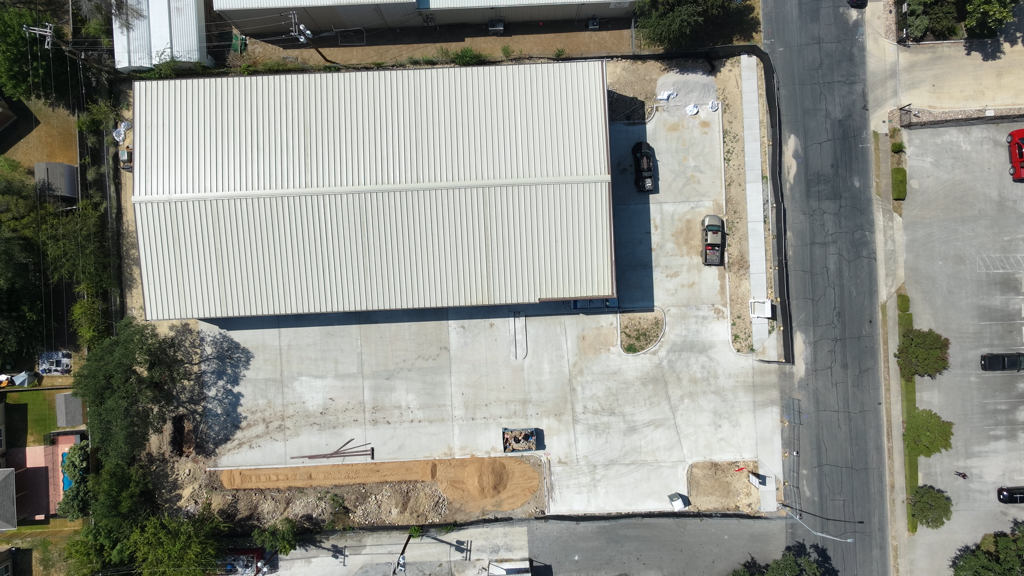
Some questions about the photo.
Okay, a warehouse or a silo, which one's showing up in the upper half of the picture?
warehouse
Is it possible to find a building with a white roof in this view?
Yes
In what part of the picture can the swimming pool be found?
bottom left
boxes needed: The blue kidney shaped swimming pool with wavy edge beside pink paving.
[61,452,81,493]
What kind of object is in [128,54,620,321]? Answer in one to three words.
warehouse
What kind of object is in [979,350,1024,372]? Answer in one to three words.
truck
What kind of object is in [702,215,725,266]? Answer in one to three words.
truck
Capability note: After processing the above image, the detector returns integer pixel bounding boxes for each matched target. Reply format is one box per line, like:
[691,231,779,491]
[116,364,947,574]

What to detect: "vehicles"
[979,350,1024,372]
[845,0,866,8]
[631,142,654,194]
[1005,130,1024,183]
[702,215,725,266]
[995,484,1024,503]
